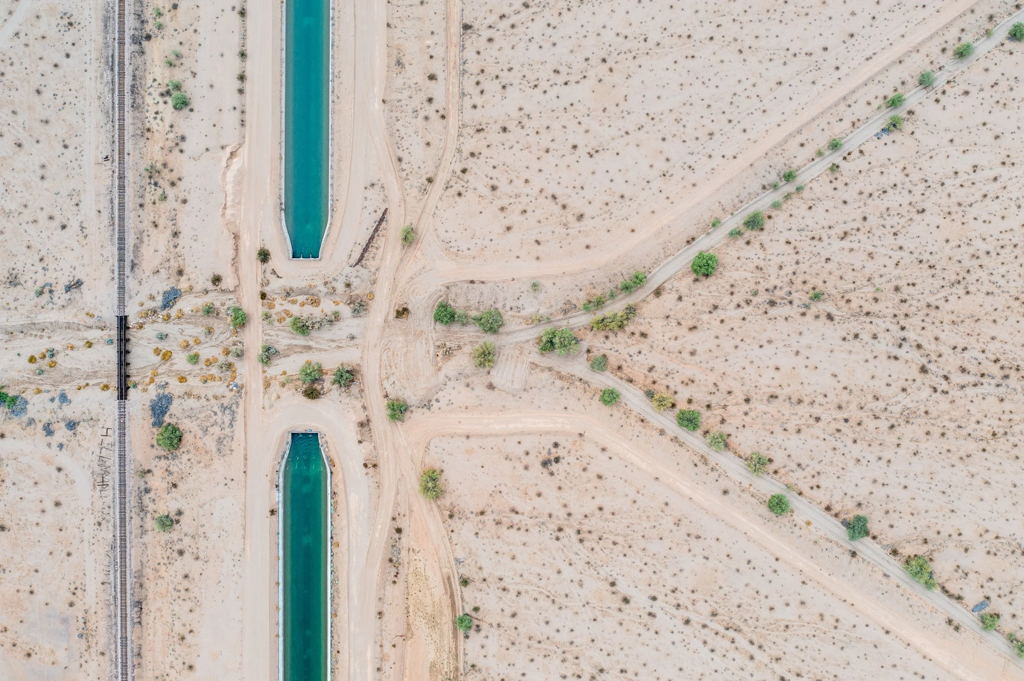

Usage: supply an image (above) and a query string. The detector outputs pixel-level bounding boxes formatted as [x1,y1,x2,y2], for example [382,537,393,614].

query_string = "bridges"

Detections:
[113,315,130,401]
